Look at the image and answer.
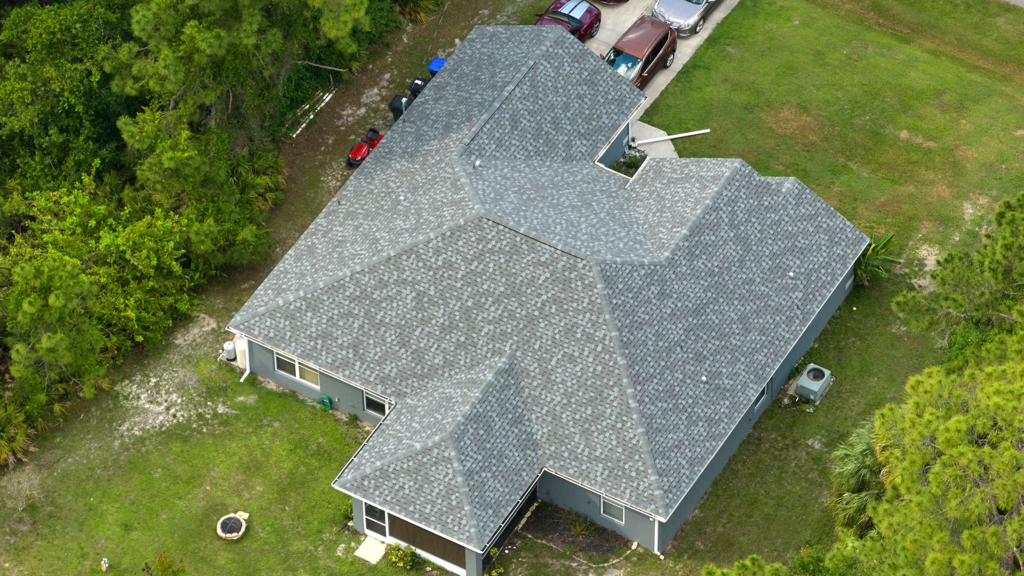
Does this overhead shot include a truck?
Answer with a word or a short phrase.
No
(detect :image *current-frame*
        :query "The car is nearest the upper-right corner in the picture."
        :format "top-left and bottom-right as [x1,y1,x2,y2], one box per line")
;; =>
[648,0,716,34]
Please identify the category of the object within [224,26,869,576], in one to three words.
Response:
house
